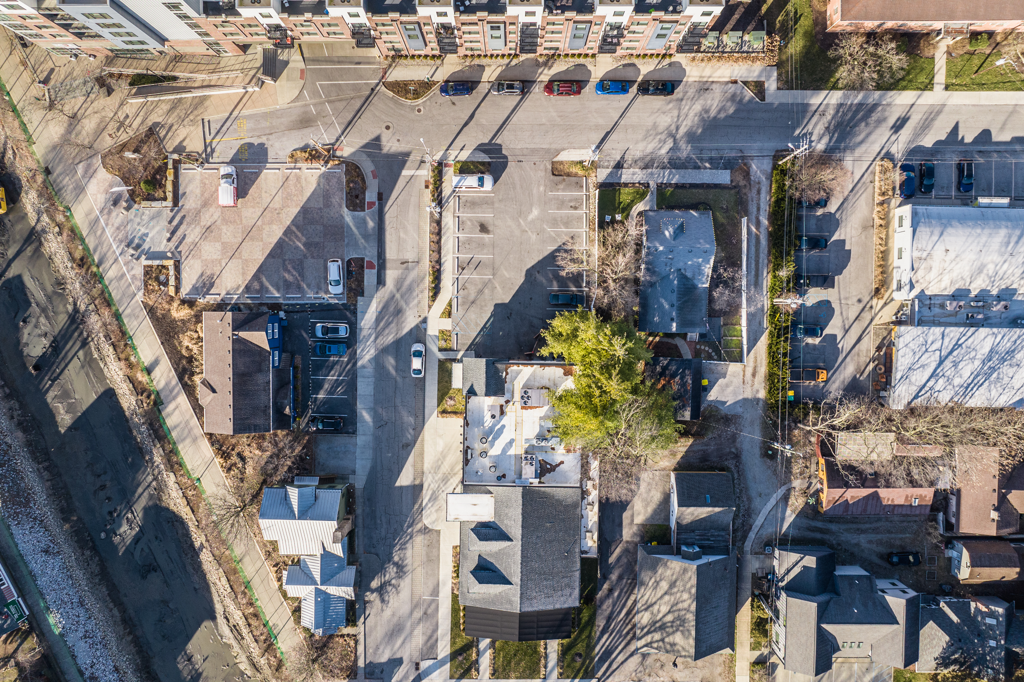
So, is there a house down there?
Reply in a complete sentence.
Yes, the frame does contain a house.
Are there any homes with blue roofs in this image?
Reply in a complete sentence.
Yes, there's a home with a blue roof down there.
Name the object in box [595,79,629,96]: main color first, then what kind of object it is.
blue car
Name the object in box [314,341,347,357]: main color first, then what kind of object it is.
blue car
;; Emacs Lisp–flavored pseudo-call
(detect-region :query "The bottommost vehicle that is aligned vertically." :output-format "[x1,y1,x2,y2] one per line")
[410,343,426,377]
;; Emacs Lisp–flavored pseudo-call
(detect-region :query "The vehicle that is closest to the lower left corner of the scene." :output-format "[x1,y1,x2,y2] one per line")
[310,416,343,432]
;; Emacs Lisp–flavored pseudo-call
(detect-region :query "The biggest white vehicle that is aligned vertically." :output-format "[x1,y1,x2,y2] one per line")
[214,162,237,215]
